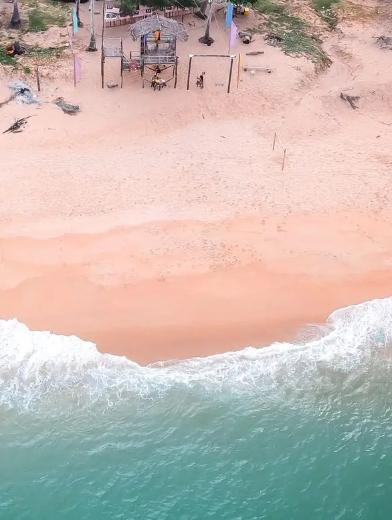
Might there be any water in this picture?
Yes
